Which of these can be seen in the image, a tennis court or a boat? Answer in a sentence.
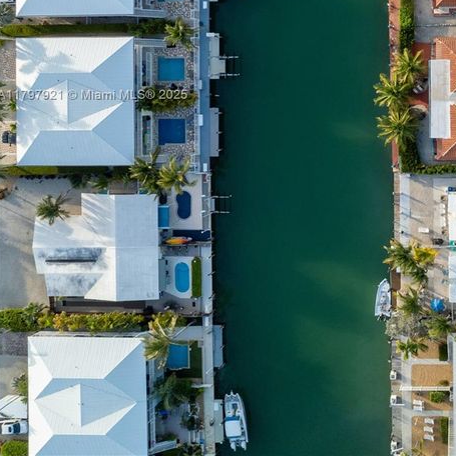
The image shows a boat.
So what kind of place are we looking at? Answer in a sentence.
The picture captures a residential area.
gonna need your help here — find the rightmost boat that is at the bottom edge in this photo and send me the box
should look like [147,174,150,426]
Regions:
[222,392,248,456]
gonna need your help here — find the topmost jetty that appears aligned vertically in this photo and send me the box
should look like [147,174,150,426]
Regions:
[210,34,226,78]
